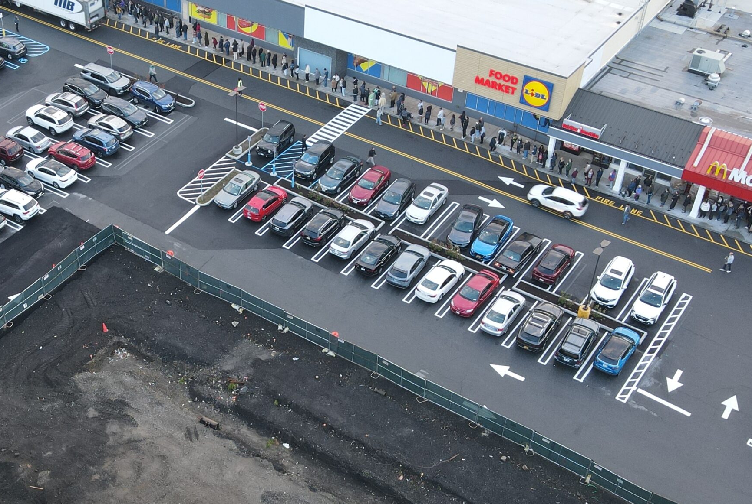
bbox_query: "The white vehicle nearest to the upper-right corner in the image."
[525,186,591,222]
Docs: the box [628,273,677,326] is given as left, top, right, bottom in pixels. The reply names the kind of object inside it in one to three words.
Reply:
car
